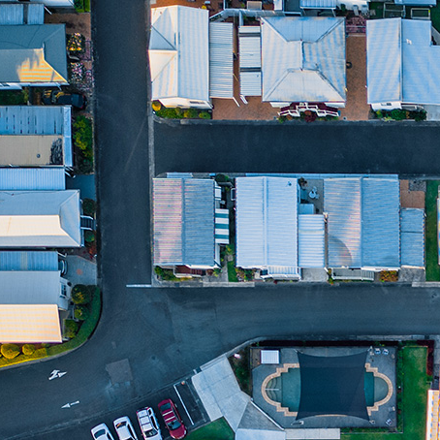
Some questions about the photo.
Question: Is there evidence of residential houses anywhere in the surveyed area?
Yes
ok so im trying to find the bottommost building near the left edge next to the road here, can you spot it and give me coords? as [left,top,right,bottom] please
[0,271,70,343]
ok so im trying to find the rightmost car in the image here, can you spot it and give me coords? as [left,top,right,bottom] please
[155,396,189,439]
